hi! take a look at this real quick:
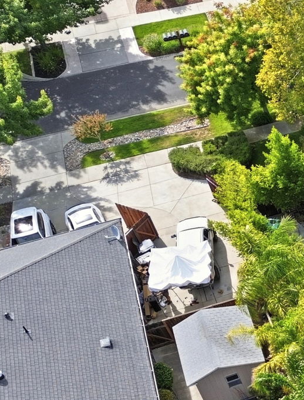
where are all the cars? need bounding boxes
[9,206,52,246]
[68,197,106,231]
[174,219,223,278]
